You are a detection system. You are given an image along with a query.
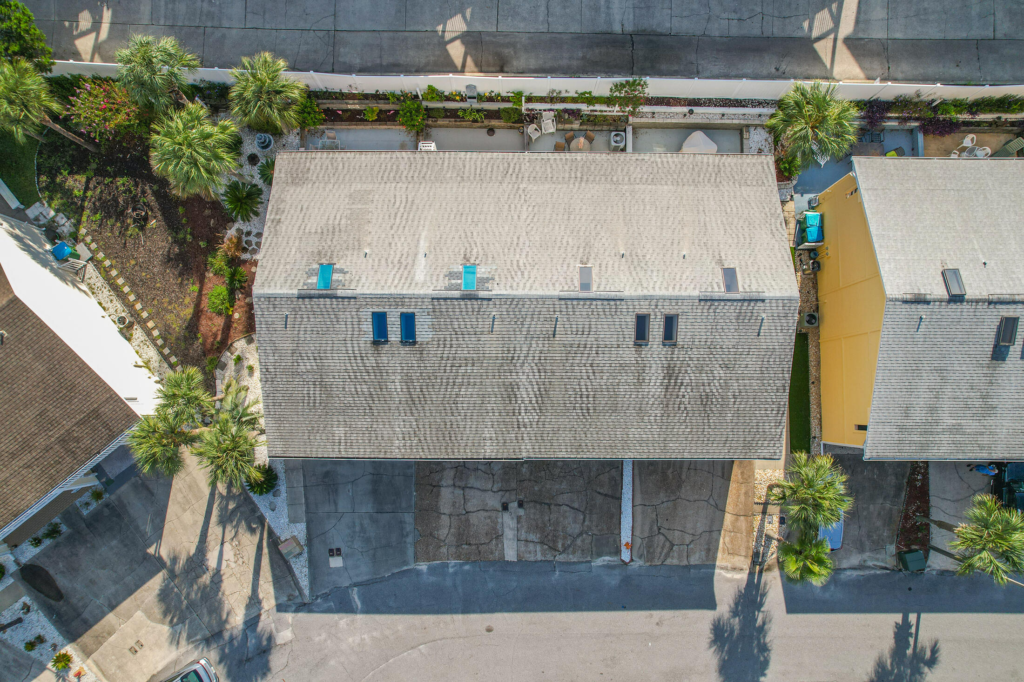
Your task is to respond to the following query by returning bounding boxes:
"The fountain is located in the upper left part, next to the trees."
[253,129,273,149]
